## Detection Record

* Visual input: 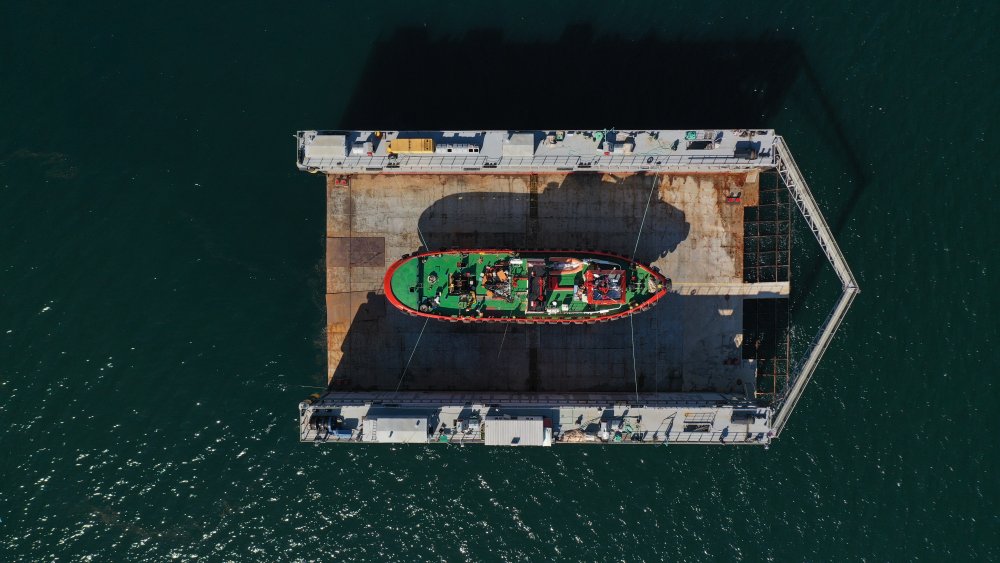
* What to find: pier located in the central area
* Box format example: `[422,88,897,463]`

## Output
[296,131,793,444]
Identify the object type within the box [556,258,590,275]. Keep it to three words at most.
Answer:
boat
